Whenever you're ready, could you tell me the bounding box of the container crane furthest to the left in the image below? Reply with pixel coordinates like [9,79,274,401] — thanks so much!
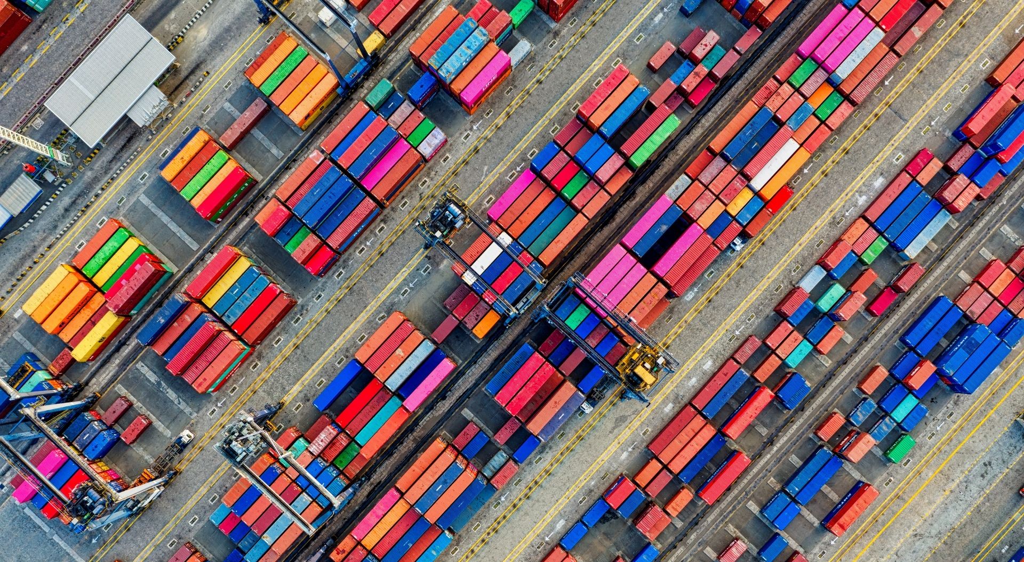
[0,361,90,424]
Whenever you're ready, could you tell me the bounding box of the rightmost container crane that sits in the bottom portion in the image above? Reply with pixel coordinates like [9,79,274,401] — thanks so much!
[532,274,688,415]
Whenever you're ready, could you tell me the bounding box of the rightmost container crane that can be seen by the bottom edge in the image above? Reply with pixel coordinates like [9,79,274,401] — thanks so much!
[204,394,373,541]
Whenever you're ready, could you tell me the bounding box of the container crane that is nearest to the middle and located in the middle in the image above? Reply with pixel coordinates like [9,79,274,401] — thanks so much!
[409,183,549,325]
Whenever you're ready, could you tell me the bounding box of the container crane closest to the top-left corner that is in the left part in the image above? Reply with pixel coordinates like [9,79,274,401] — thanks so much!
[256,0,384,100]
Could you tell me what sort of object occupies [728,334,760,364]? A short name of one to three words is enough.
shipping container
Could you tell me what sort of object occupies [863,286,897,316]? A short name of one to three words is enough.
shipping container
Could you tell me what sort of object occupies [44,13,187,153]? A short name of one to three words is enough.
shed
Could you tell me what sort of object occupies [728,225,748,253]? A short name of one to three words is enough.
vehicle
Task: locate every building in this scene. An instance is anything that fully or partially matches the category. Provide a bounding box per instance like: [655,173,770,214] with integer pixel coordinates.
[44,13,187,153]
[0,172,50,219]
[41,168,62,185]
